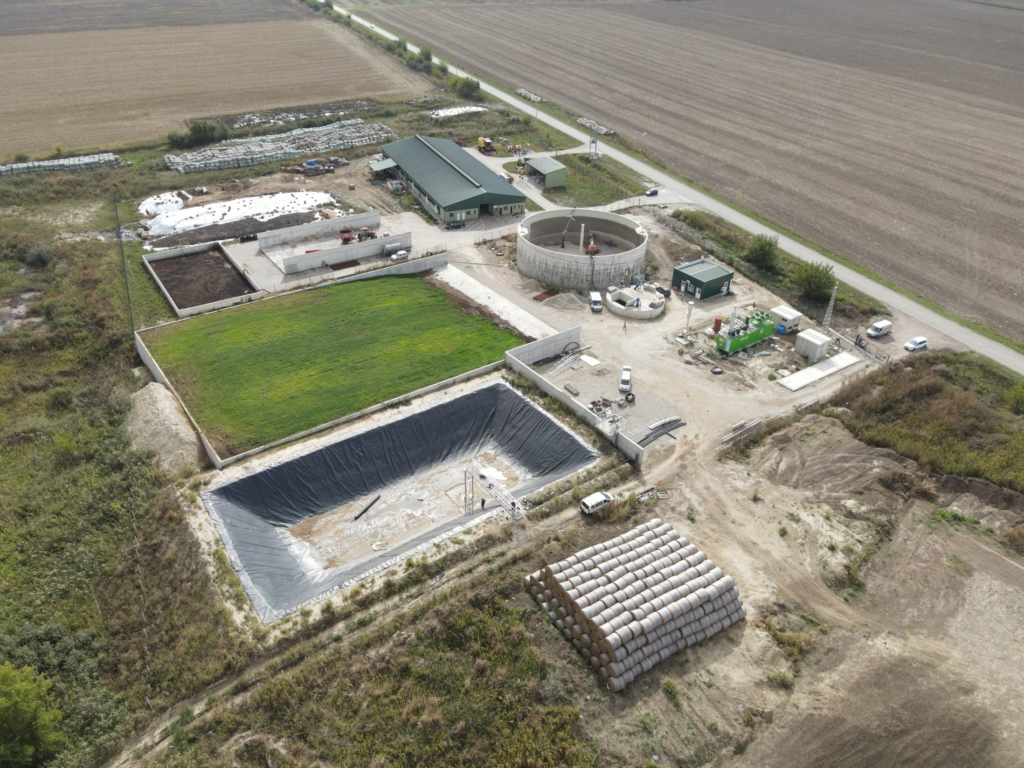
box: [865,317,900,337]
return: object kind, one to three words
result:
vehicle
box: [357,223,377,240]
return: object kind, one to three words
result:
work vehicle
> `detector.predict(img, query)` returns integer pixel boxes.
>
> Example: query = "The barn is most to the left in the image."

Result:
[367,132,528,223]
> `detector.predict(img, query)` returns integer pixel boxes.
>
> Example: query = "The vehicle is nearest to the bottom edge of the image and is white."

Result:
[579,485,620,515]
